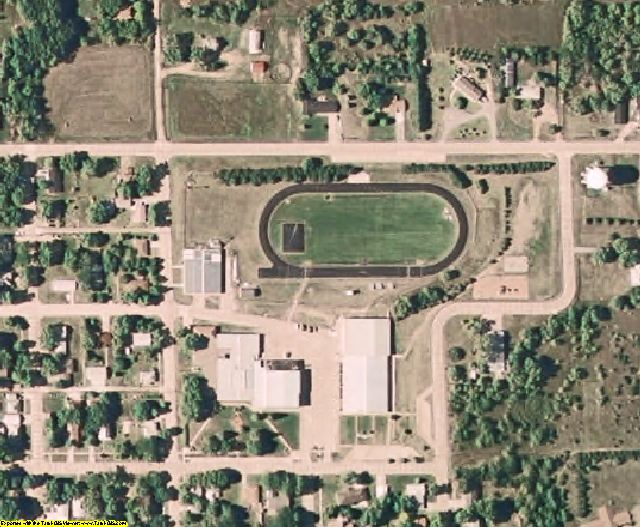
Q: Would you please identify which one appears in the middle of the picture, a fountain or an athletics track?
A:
athletics track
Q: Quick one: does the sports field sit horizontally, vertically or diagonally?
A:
horizontally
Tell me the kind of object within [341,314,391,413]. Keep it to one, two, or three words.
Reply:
building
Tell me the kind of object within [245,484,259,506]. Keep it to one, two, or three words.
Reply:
house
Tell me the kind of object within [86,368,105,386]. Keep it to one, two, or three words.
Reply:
building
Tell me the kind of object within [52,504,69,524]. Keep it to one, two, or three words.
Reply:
house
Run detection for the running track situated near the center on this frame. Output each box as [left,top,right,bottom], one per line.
[258,182,469,278]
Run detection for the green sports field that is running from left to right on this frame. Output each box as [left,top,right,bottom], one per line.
[269,193,458,268]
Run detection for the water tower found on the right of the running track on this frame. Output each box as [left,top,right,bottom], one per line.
[579,164,608,193]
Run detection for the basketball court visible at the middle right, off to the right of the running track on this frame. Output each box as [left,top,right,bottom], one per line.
[503,255,528,273]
